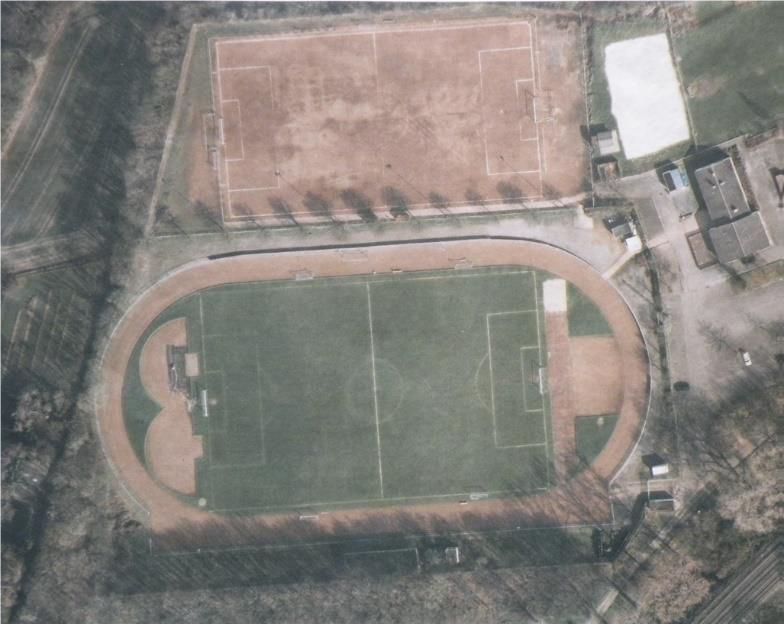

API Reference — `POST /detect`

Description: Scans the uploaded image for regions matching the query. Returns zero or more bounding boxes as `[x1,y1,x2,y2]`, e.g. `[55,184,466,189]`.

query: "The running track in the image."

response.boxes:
[100,243,648,547]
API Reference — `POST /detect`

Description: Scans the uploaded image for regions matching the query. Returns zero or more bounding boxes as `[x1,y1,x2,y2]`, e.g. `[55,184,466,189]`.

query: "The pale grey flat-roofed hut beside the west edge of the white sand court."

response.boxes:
[598,130,620,155]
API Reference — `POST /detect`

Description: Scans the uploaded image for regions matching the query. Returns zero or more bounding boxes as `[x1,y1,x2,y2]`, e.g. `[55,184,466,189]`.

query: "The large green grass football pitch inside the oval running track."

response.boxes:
[122,265,625,515]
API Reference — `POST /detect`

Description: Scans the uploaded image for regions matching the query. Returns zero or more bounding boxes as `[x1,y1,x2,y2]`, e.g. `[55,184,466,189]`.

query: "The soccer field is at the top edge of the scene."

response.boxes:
[211,18,548,224]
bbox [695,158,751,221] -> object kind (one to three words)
building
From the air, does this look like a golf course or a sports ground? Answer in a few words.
sports ground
